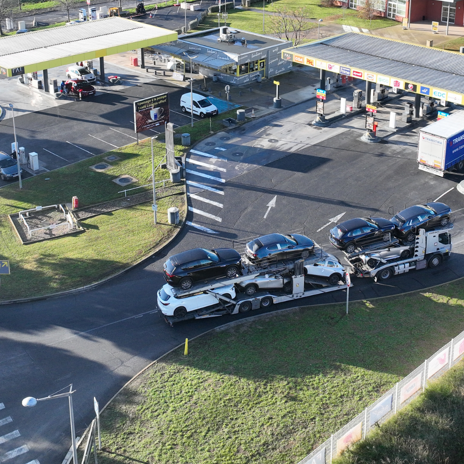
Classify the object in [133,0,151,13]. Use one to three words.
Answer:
vehicle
